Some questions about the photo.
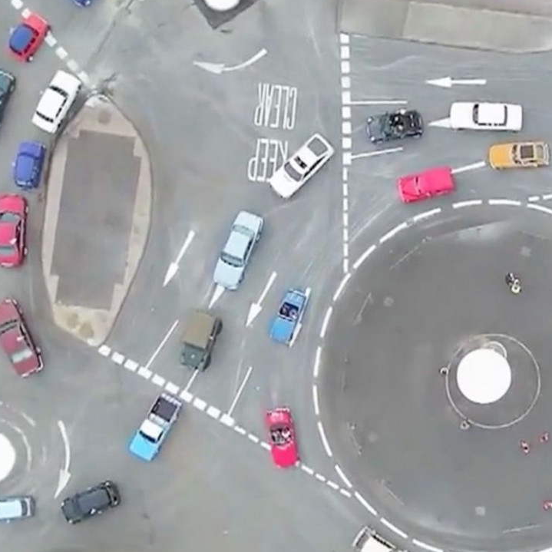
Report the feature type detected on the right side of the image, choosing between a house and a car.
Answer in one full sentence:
Looking on the right side of the image, you will find a car.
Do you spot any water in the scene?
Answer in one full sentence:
No, the scene doesn't show any water.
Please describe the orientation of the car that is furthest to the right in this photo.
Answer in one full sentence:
I'd say the car that is furthest to the right is aligned from side to side in the picture.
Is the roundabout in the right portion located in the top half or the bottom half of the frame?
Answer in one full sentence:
Seen from above, the roundabout in the right portion lies in the bottom half of the view.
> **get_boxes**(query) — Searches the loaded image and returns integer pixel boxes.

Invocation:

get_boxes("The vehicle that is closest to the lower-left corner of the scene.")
[0,495,37,521]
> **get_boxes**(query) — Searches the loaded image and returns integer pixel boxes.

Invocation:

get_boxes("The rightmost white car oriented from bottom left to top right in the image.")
[270,134,334,199]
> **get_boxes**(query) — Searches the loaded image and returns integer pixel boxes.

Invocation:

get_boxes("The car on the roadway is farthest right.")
[489,136,550,168]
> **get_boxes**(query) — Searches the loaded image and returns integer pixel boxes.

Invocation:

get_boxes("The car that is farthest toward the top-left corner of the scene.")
[6,14,51,64]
